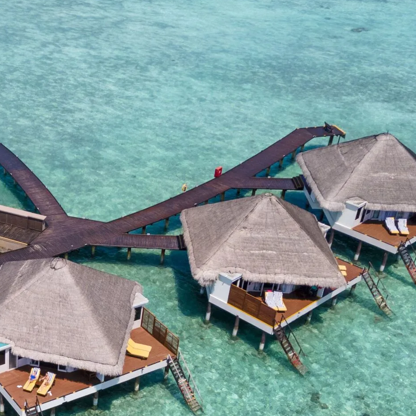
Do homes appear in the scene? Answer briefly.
Yes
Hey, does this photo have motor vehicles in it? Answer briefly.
No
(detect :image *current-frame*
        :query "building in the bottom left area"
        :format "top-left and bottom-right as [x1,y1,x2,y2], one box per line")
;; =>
[0,257,207,416]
